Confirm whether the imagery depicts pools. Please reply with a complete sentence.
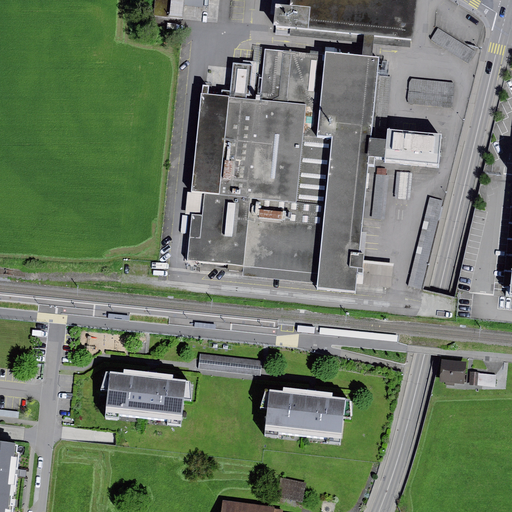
No, no pool is visible in the scene.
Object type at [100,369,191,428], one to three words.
house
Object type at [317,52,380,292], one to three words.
building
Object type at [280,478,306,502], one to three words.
shed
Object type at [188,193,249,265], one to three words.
building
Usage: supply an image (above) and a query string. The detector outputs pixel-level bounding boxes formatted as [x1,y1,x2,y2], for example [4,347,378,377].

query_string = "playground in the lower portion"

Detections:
[79,330,144,354]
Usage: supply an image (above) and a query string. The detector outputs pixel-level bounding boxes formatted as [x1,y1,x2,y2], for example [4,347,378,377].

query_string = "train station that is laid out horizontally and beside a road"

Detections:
[0,294,398,342]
